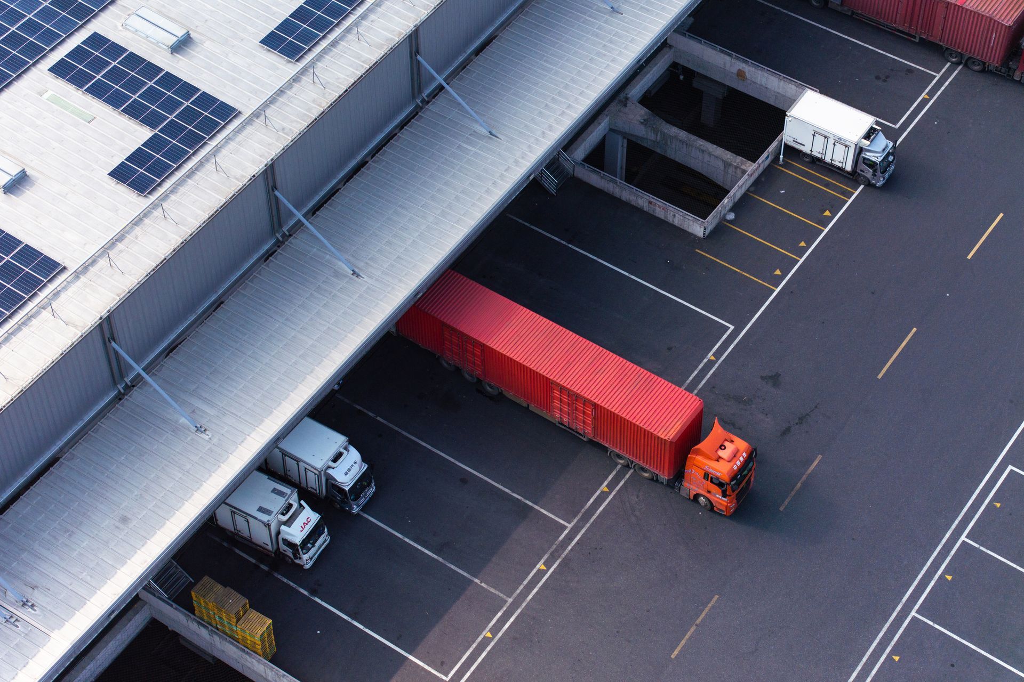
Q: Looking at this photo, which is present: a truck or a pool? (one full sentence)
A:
Looking from above, you can make out a truck.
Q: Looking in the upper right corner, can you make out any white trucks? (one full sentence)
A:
Yes, a white truck can be seen in the upper right corner.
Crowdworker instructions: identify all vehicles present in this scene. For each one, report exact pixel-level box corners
[260,416,379,518]
[784,88,898,190]
[210,469,330,572]
[815,0,1024,86]
[389,270,764,521]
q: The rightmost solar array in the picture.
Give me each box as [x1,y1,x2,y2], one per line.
[258,0,359,57]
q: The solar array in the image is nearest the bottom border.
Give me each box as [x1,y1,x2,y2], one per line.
[0,226,63,317]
